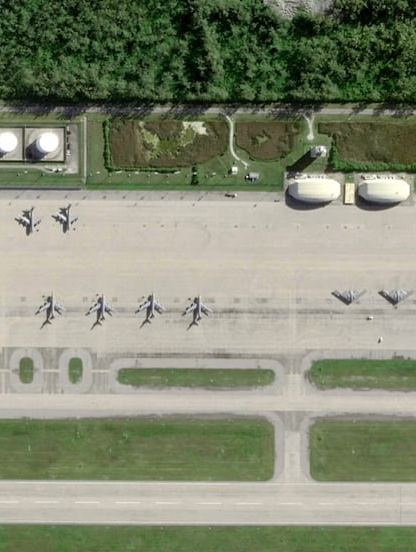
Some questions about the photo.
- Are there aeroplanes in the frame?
Yes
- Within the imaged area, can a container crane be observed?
No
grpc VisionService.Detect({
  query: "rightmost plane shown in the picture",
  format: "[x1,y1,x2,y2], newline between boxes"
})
[383,291,412,303]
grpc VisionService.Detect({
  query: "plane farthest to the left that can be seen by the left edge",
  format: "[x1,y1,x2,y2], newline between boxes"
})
[18,206,47,233]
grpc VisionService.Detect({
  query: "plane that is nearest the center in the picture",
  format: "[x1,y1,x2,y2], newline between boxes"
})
[186,294,213,321]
